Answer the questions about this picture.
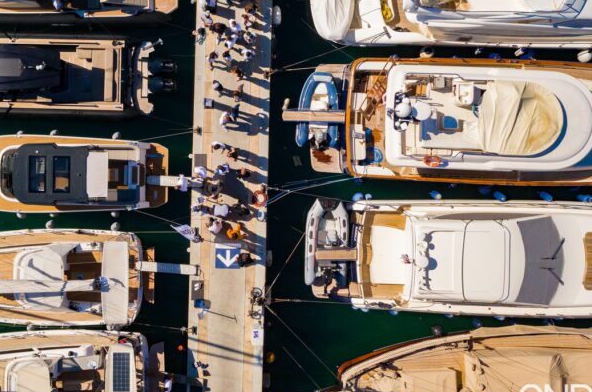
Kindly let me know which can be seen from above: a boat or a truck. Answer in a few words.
boat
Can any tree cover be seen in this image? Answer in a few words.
No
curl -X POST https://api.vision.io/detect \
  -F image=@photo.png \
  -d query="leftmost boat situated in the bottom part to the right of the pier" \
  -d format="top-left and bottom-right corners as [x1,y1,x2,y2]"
[304,198,349,288]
